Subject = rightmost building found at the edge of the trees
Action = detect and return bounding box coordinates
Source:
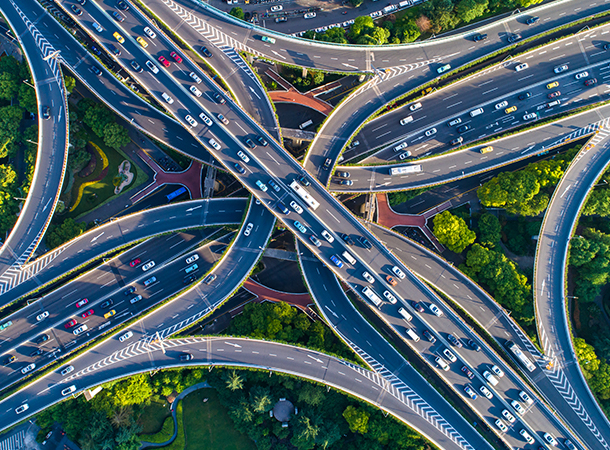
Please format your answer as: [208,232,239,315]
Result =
[272,396,295,420]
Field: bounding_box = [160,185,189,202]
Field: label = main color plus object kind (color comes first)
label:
blue vehicle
